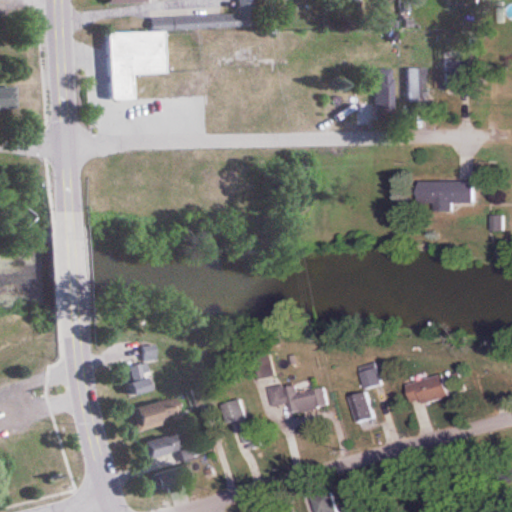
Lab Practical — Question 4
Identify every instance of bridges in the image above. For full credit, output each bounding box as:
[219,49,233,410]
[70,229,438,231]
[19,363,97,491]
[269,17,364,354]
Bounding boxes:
[51,211,96,317]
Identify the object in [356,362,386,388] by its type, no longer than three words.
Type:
house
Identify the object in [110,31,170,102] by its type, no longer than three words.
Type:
building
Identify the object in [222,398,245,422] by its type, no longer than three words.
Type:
house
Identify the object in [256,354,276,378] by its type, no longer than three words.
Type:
building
